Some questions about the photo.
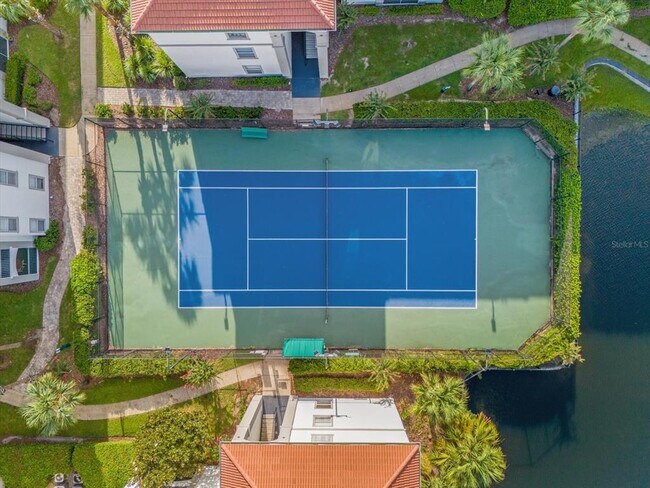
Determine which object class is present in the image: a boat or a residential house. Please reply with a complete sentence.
This aerial view contains a residential house.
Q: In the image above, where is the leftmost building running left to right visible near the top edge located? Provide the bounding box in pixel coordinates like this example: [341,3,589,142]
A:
[130,0,341,97]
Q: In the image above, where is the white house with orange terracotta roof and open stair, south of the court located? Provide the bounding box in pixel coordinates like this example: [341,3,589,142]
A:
[218,395,422,488]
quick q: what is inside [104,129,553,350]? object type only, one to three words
tennis court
